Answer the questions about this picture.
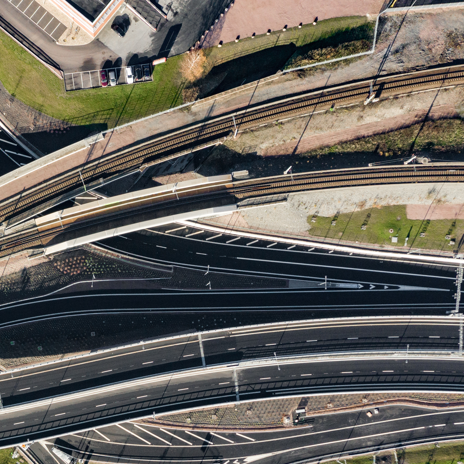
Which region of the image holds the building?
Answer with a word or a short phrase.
top left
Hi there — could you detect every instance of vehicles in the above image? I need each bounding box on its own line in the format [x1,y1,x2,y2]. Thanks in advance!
[134,64,142,80]
[143,64,151,79]
[126,66,133,82]
[108,70,116,86]
[101,69,108,86]
[111,22,126,37]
